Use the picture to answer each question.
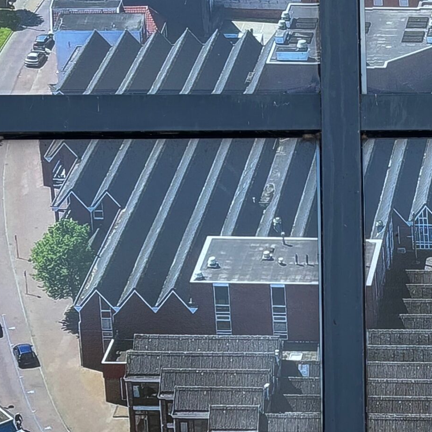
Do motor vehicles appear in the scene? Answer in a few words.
Yes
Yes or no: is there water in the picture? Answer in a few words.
No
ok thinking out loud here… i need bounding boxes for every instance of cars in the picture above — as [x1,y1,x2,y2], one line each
[21,50,48,69]
[14,344,39,370]
[32,32,54,49]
